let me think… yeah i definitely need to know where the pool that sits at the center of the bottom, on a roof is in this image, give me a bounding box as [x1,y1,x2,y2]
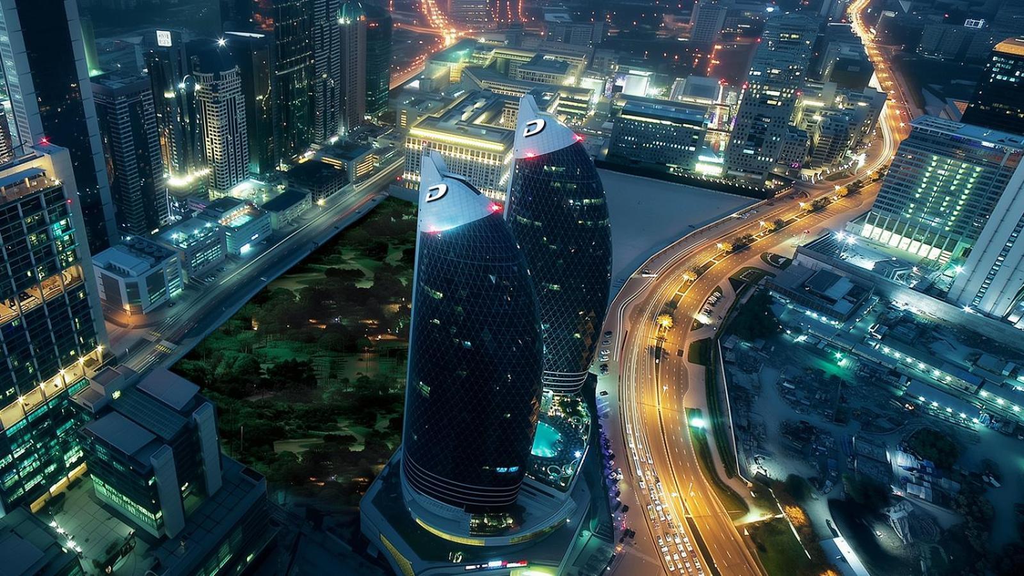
[532,421,563,457]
